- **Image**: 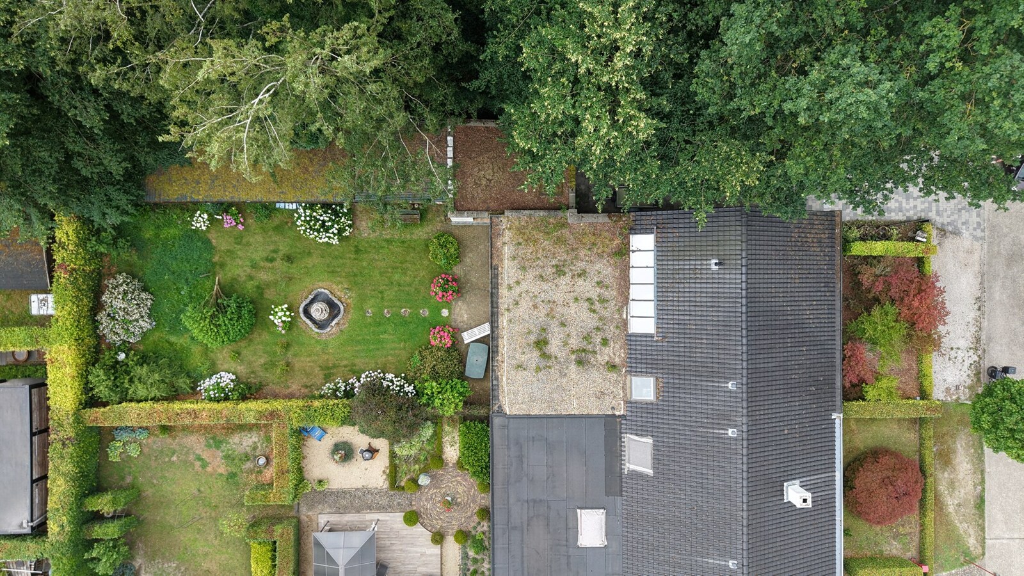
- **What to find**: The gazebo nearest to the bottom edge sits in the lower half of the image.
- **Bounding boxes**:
[313,519,379,576]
